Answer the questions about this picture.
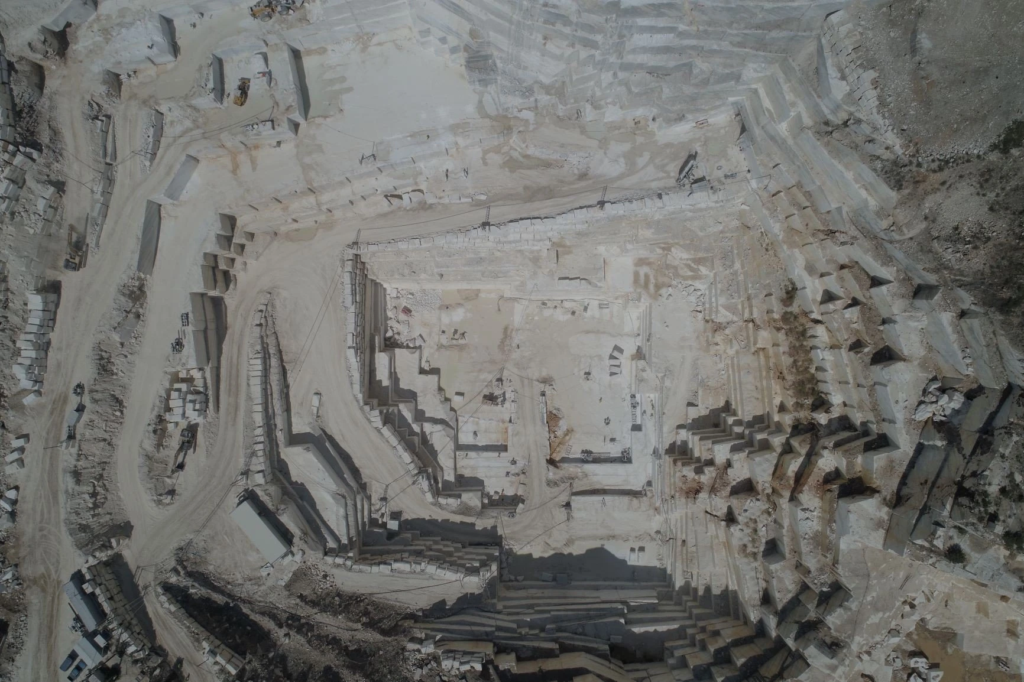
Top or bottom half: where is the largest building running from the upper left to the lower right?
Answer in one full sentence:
The largest building running from the upper left to the lower right sits in the bottom half of the picture.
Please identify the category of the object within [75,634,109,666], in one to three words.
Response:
shed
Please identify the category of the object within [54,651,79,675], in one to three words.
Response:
car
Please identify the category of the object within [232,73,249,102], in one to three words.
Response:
work vehicle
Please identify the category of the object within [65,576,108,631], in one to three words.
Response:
shed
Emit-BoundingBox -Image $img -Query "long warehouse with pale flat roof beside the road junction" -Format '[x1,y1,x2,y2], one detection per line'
[234,498,296,560]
